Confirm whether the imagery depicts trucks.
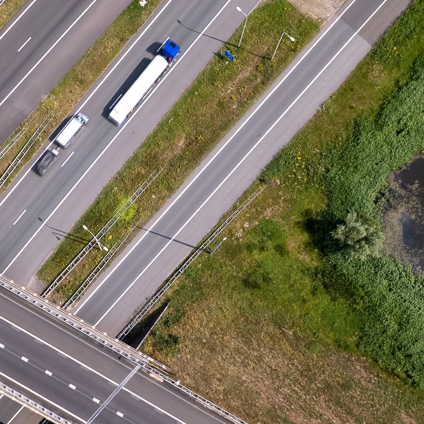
Yes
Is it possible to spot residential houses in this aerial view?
No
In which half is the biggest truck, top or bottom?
top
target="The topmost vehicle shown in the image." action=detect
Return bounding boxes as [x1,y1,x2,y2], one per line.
[107,41,183,130]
